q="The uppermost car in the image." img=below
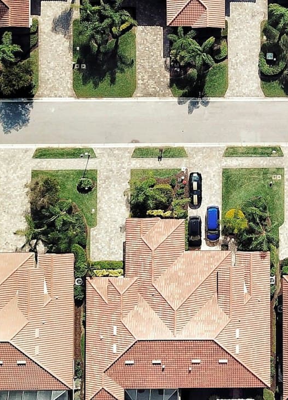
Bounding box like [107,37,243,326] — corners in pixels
[187,171,202,206]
